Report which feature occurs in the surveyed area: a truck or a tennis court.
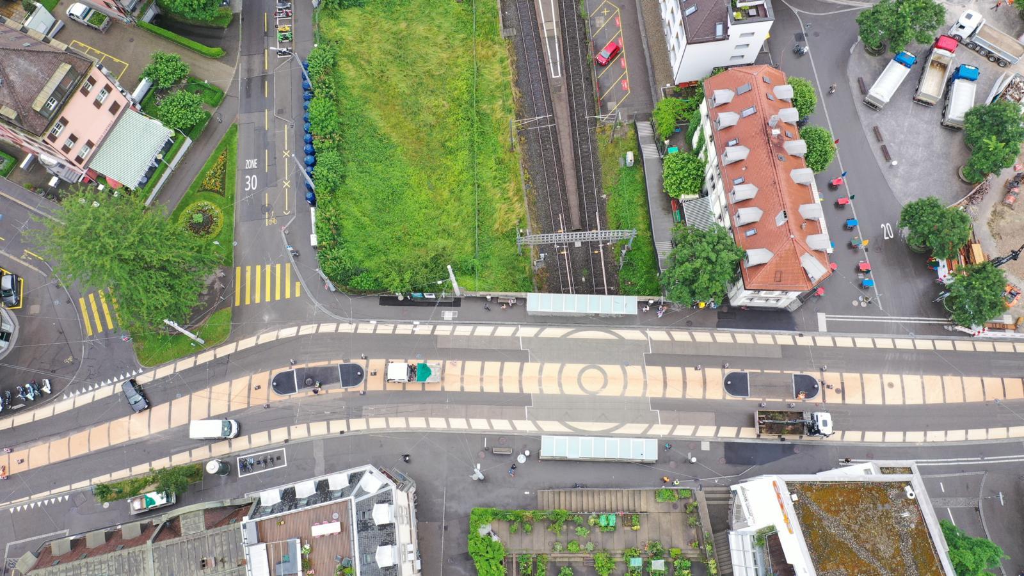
truck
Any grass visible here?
Yes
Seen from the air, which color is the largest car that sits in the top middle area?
red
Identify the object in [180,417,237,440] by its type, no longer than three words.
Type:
vehicle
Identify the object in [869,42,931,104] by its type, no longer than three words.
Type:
truck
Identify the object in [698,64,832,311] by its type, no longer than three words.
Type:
house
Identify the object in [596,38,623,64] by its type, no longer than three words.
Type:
car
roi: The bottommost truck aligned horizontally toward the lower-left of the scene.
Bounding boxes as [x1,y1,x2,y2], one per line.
[121,489,176,520]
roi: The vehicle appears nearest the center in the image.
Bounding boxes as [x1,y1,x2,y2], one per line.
[382,357,439,383]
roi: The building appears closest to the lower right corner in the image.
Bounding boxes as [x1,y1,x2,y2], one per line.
[724,458,957,576]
